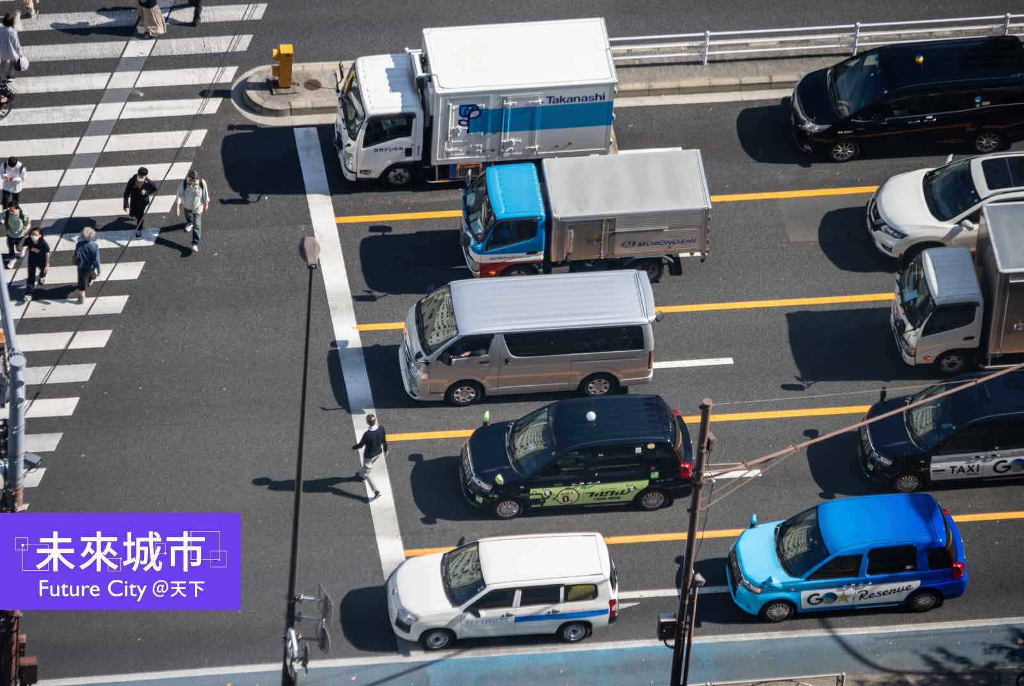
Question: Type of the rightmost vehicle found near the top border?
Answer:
truck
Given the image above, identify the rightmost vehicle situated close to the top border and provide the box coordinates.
[332,16,620,194]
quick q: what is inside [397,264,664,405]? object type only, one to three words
vehicle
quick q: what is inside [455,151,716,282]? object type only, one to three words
truck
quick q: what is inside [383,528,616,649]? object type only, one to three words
car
